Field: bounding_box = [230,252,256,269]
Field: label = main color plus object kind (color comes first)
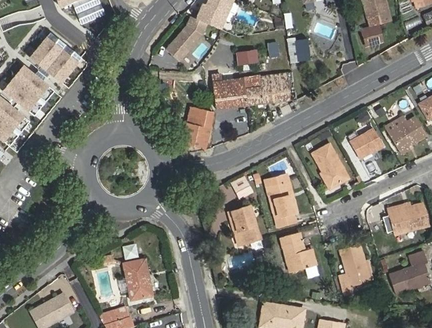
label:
blue swimming pool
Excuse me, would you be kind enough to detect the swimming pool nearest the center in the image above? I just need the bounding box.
[268,158,289,173]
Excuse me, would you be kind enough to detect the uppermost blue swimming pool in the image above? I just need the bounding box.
[236,10,259,26]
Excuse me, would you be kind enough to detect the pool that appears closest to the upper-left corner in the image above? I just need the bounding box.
[190,42,211,61]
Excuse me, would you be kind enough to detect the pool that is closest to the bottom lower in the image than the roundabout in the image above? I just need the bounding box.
[96,270,114,298]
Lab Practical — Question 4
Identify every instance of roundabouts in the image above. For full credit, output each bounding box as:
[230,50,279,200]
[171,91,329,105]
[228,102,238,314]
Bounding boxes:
[77,125,168,217]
